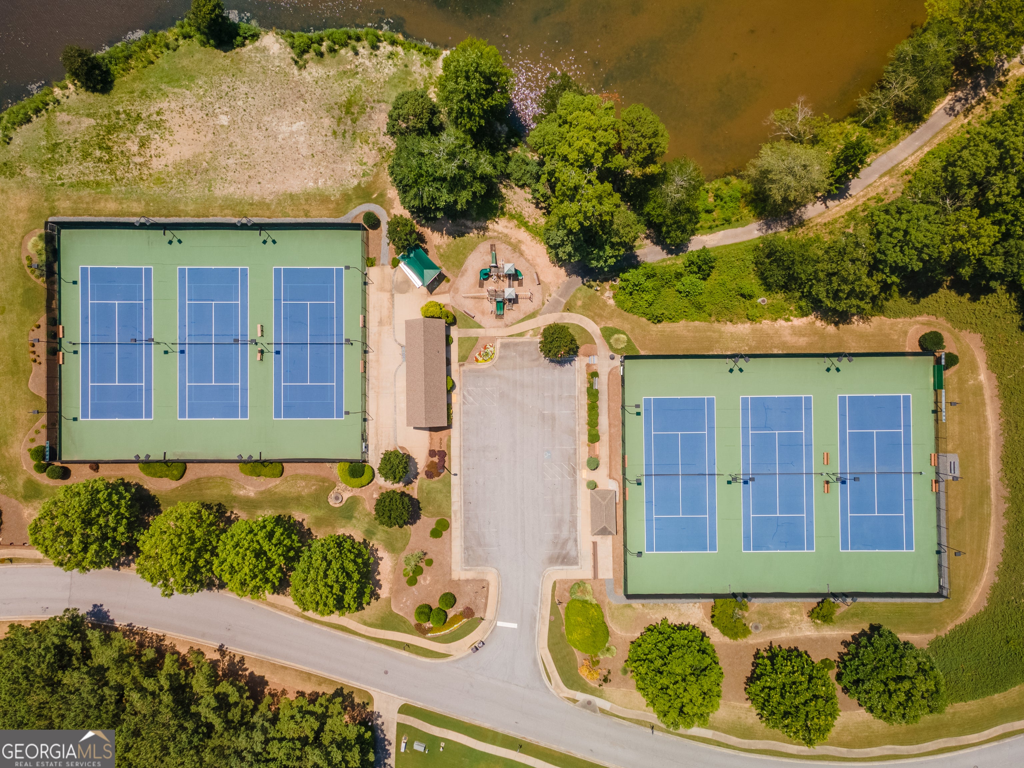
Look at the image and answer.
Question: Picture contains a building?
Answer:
Yes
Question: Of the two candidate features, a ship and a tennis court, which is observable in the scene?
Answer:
tennis court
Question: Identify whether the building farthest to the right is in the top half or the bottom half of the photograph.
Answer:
bottom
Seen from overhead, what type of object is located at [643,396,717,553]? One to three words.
tennis court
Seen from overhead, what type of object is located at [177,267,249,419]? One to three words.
tennis court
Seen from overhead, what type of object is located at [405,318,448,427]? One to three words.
building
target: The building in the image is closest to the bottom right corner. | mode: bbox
[589,488,617,536]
